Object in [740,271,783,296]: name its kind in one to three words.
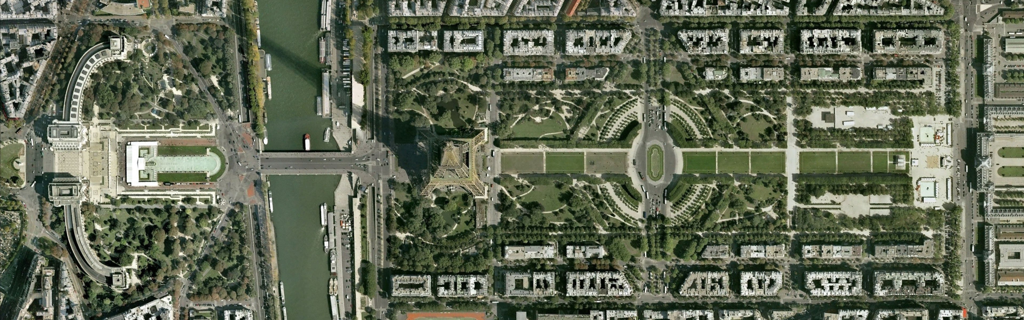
building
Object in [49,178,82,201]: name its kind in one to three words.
building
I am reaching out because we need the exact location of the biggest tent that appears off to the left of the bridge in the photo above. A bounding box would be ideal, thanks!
[127,141,158,186]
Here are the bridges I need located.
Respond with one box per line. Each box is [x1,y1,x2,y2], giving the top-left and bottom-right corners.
[261,152,353,176]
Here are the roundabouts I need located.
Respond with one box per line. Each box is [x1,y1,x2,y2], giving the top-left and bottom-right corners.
[646,140,665,185]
